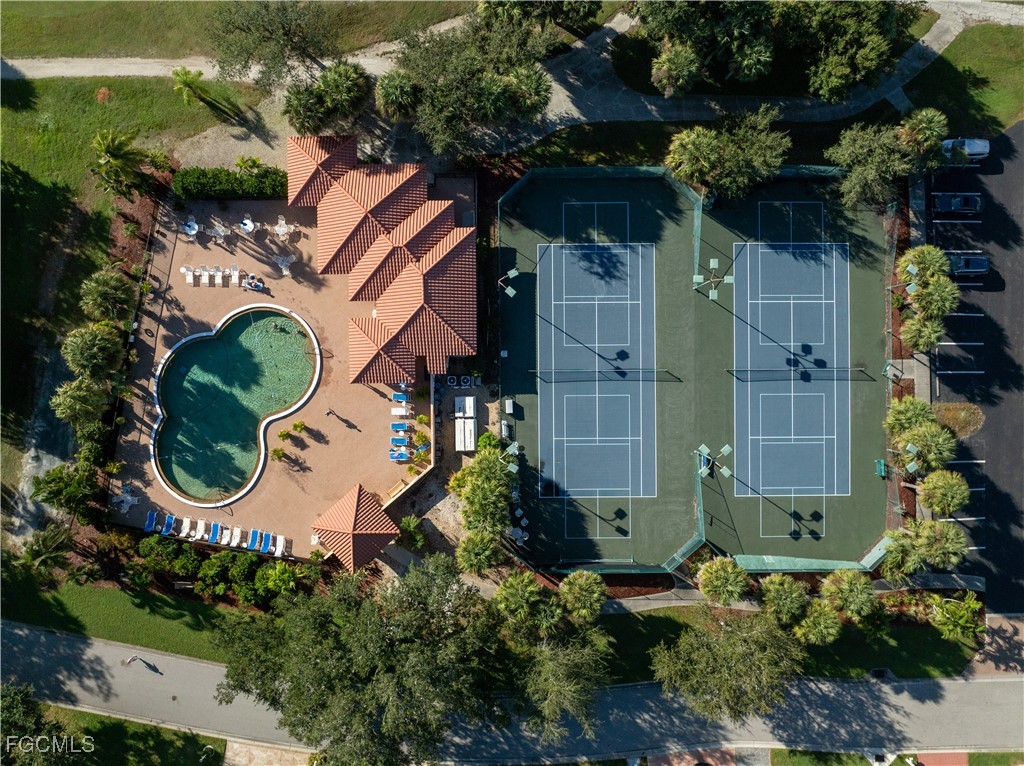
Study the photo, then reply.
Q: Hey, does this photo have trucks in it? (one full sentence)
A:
No, there's no truck here.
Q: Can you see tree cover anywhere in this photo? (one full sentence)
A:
Yes, there is tree cover in the image.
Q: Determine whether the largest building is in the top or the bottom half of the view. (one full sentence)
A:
The largest building is in the top half of the image.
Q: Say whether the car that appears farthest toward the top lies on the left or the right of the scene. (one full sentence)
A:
You can find the car that appears farthest toward the top on the right side of the picture.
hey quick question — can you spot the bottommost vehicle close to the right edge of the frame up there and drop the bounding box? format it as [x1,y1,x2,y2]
[940,253,991,278]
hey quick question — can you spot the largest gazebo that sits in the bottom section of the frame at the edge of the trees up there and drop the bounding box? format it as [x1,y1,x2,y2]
[311,485,400,574]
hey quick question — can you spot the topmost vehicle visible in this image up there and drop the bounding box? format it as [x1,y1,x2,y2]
[936,138,990,164]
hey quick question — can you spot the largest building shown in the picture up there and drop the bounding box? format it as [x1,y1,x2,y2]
[286,135,477,384]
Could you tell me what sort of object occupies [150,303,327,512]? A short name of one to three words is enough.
swimming pool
